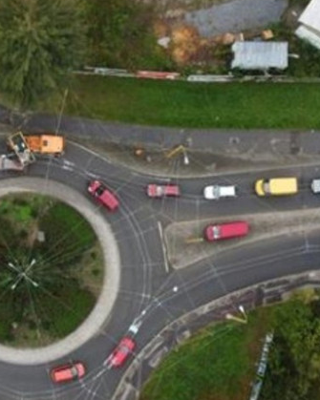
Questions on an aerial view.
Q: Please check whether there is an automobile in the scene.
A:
Yes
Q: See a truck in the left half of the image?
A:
Yes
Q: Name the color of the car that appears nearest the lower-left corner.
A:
red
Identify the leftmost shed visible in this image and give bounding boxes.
[226,41,288,74]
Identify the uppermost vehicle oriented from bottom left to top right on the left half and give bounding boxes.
[108,335,135,369]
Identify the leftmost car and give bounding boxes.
[0,157,26,172]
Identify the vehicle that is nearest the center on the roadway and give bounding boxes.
[148,182,180,198]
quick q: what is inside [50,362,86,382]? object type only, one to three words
car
